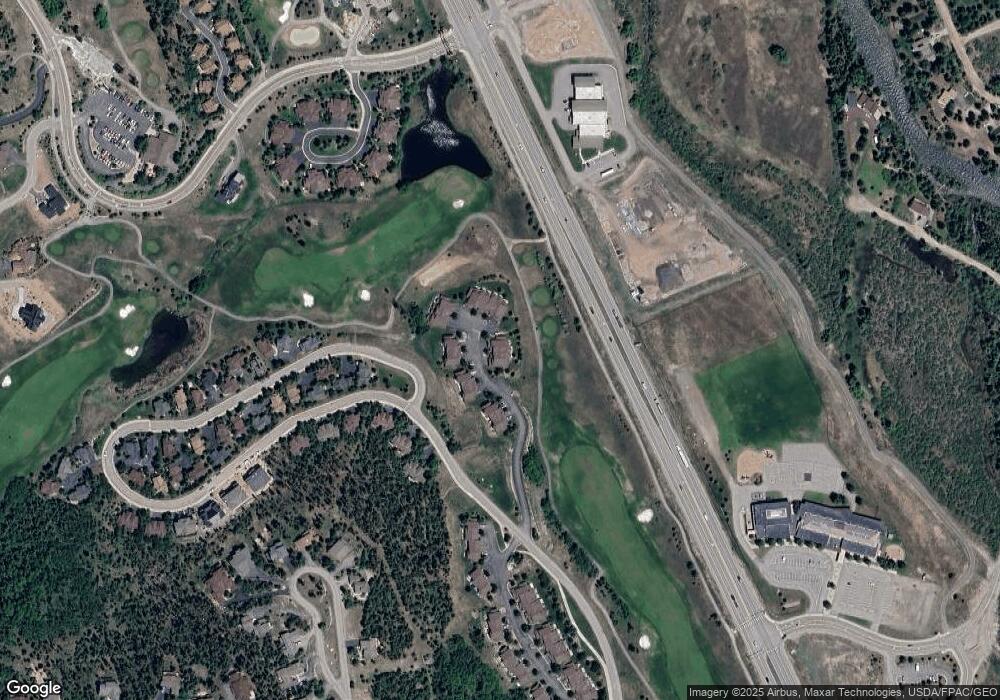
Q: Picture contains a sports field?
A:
Yes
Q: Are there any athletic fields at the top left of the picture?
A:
No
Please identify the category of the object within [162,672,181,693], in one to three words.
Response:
house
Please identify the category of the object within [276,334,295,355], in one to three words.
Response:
house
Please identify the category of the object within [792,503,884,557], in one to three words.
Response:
building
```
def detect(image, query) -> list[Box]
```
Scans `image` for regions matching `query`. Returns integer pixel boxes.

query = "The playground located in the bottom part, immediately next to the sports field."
[737,448,775,483]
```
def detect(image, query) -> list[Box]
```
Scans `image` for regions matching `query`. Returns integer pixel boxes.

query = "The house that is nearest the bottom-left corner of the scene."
[99,679,120,699]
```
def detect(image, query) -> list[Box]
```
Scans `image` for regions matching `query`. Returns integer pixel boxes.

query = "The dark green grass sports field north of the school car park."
[694,335,827,450]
